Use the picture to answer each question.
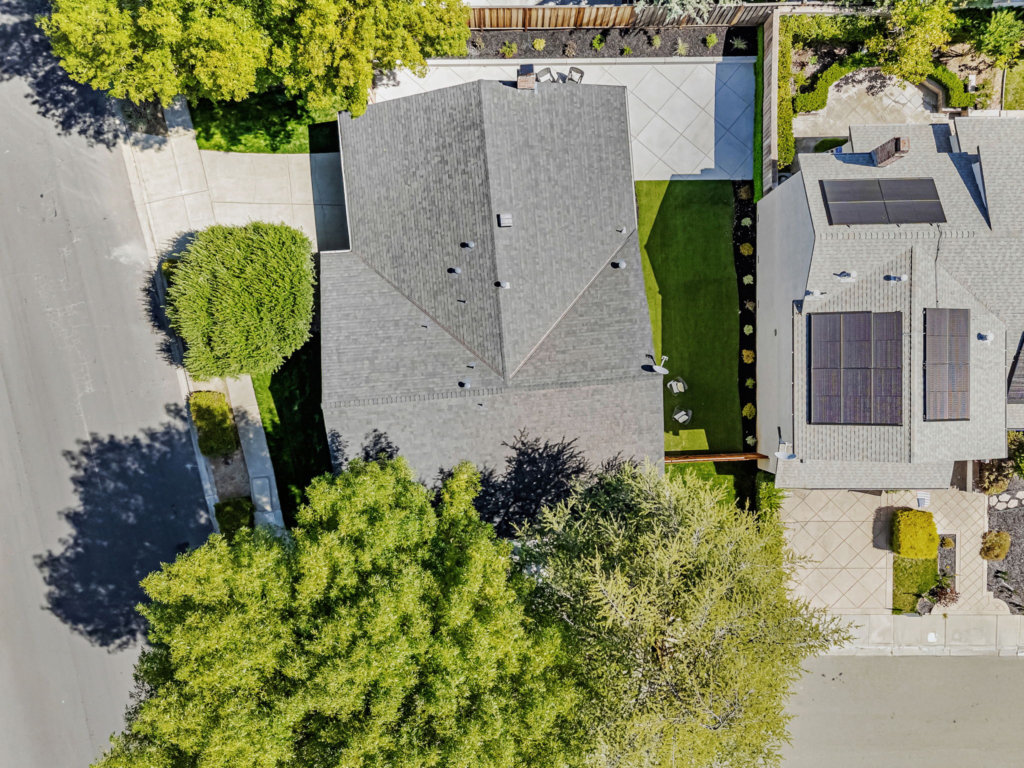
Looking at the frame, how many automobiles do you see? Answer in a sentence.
There are no automobiles in the image.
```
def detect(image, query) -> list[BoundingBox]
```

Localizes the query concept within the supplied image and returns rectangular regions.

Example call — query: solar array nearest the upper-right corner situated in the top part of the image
[818,181,949,227]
